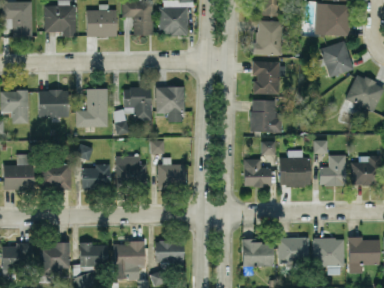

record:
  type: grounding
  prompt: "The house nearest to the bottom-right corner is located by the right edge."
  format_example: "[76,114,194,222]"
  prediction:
[349,236,380,273]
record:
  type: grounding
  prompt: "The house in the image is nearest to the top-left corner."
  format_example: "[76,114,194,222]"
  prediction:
[5,1,32,36]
